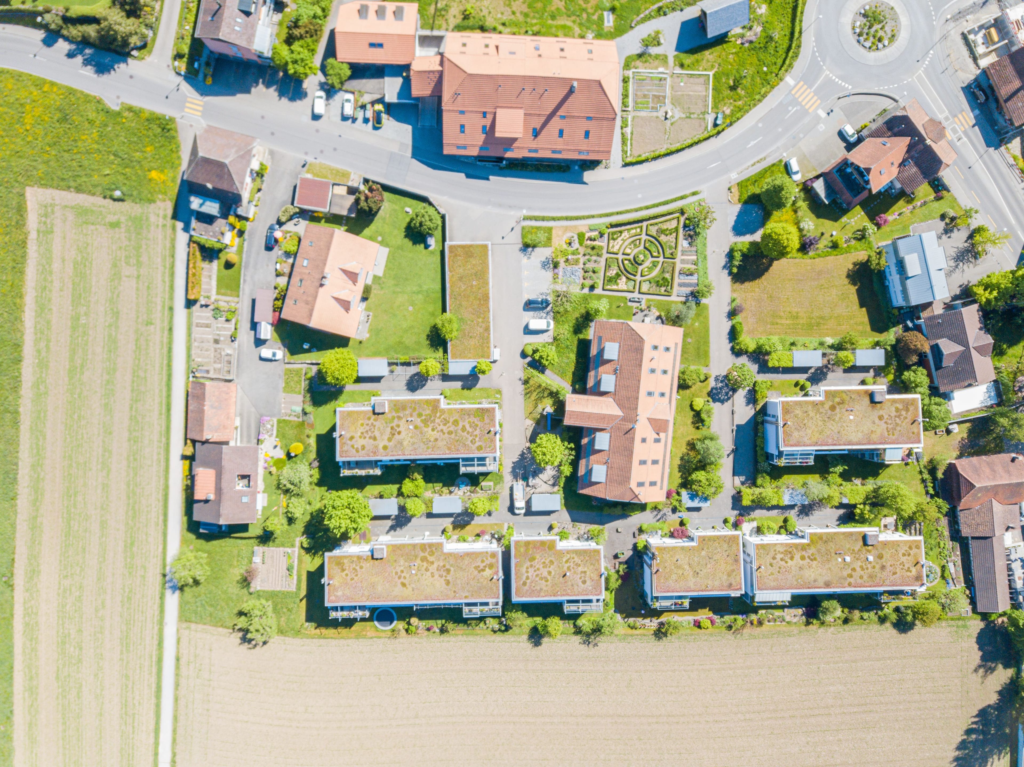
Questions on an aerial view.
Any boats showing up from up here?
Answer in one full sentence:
No, no boat is visible in the scene.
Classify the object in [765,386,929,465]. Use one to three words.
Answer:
building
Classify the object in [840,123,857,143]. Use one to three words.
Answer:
car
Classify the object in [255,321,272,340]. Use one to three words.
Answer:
camper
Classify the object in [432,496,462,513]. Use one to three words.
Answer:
shed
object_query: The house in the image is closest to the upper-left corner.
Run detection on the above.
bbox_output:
[195,0,279,68]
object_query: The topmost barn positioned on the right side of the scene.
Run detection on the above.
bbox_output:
[695,0,749,42]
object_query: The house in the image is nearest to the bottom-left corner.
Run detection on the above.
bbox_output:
[193,442,265,533]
